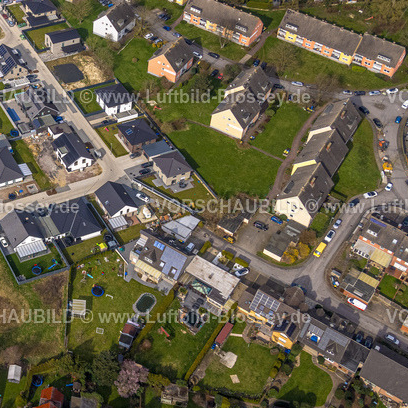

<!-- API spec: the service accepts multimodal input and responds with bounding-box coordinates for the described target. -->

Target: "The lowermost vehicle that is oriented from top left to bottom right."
[382,332,401,346]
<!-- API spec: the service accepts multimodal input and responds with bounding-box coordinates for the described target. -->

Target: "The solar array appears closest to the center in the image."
[157,248,187,279]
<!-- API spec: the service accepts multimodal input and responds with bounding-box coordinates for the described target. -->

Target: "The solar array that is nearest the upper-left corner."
[0,47,14,75]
